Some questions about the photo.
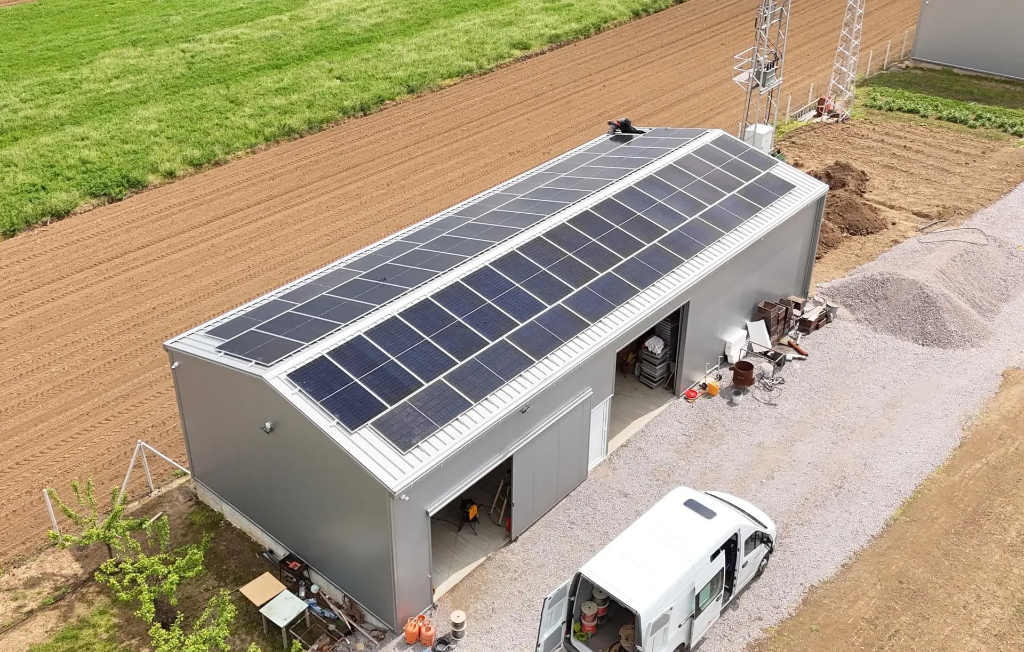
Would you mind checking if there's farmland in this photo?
Yes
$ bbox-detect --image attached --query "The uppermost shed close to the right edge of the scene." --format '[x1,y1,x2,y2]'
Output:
[911,0,1024,77]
